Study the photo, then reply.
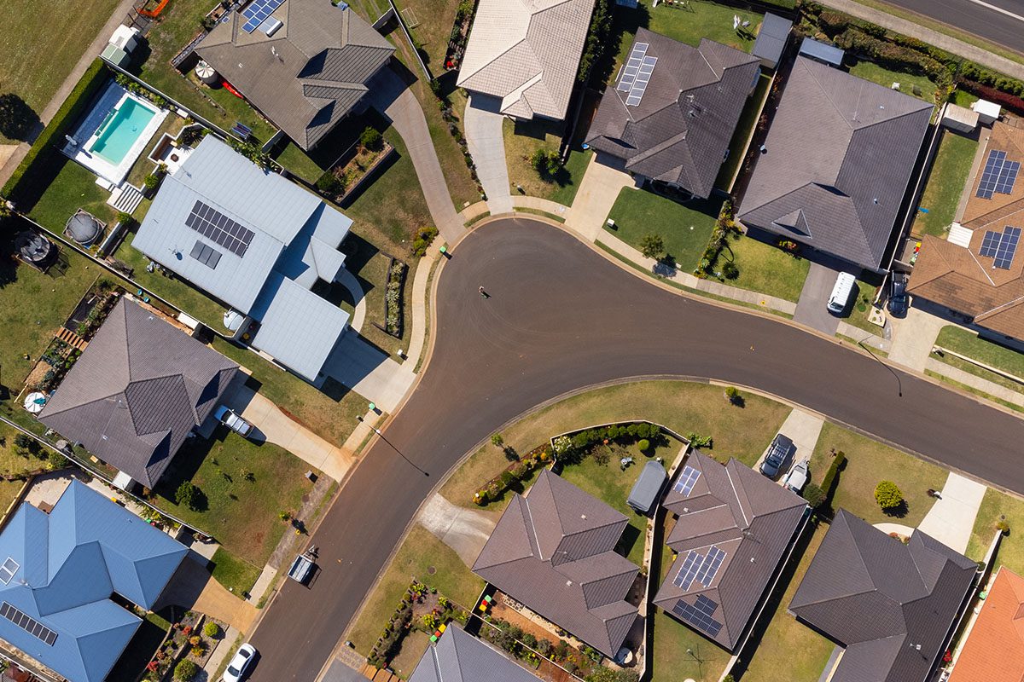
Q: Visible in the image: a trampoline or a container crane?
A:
trampoline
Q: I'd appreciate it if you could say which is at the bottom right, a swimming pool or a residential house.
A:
residential house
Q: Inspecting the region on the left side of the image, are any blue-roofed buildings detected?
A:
Yes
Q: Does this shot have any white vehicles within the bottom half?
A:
Yes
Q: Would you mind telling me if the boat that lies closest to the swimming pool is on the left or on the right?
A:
left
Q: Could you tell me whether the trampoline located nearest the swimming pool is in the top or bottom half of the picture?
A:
top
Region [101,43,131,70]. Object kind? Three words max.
building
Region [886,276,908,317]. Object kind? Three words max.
vehicle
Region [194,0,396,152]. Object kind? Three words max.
house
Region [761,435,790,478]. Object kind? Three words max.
vehicle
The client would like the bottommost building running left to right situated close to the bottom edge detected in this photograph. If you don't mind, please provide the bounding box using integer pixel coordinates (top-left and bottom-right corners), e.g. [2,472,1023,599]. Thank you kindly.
[408,622,551,682]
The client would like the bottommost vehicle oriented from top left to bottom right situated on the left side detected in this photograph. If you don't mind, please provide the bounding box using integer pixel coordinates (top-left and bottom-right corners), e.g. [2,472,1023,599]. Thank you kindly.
[214,406,258,440]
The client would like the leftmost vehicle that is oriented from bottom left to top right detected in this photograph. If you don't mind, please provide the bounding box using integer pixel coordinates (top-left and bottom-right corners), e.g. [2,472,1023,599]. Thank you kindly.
[222,642,259,682]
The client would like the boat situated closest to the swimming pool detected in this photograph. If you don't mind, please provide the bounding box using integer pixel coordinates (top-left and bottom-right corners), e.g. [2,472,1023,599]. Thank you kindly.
[219,77,244,99]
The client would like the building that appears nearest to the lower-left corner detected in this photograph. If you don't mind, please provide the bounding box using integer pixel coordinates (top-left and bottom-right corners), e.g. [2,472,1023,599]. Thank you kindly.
[0,479,190,682]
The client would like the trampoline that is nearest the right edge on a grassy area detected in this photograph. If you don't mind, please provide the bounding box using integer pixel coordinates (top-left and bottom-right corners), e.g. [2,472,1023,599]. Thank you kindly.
[63,207,107,247]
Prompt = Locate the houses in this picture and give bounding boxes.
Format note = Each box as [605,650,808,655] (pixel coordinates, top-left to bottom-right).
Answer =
[456,0,595,123]
[584,26,762,200]
[905,121,1024,345]
[944,565,1024,682]
[131,133,354,381]
[194,0,396,152]
[37,296,240,489]
[788,507,980,682]
[471,468,641,658]
[652,448,809,651]
[0,479,190,682]
[408,622,551,682]
[614,0,638,15]
[737,54,934,271]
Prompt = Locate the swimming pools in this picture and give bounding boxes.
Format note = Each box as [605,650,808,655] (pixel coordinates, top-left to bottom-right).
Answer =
[64,81,170,186]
